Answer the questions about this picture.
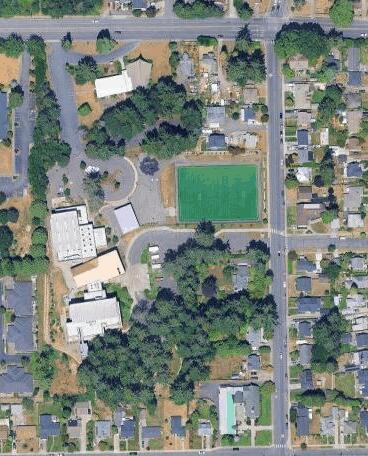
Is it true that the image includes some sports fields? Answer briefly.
Yes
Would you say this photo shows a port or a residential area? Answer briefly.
residential area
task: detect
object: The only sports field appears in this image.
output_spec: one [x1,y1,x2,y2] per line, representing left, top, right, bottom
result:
[177,163,261,224]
